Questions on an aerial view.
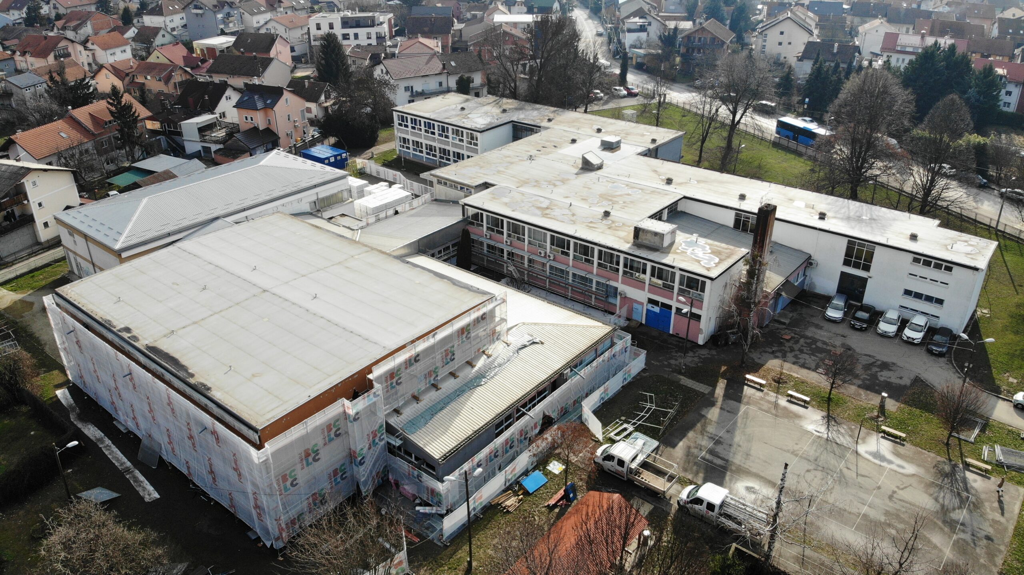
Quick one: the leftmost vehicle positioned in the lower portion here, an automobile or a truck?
truck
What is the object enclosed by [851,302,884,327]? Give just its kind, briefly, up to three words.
car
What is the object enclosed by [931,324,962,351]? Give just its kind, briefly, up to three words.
car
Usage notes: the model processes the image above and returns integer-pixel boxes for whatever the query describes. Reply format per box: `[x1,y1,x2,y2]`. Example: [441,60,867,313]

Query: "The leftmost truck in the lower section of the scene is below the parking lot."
[593,440,681,499]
